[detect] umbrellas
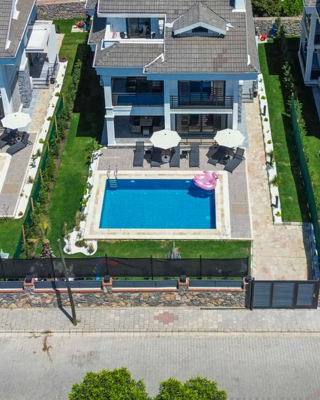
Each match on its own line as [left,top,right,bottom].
[148,129,181,163]
[0,111,32,144]
[212,127,246,161]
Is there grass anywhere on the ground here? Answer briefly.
Yes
